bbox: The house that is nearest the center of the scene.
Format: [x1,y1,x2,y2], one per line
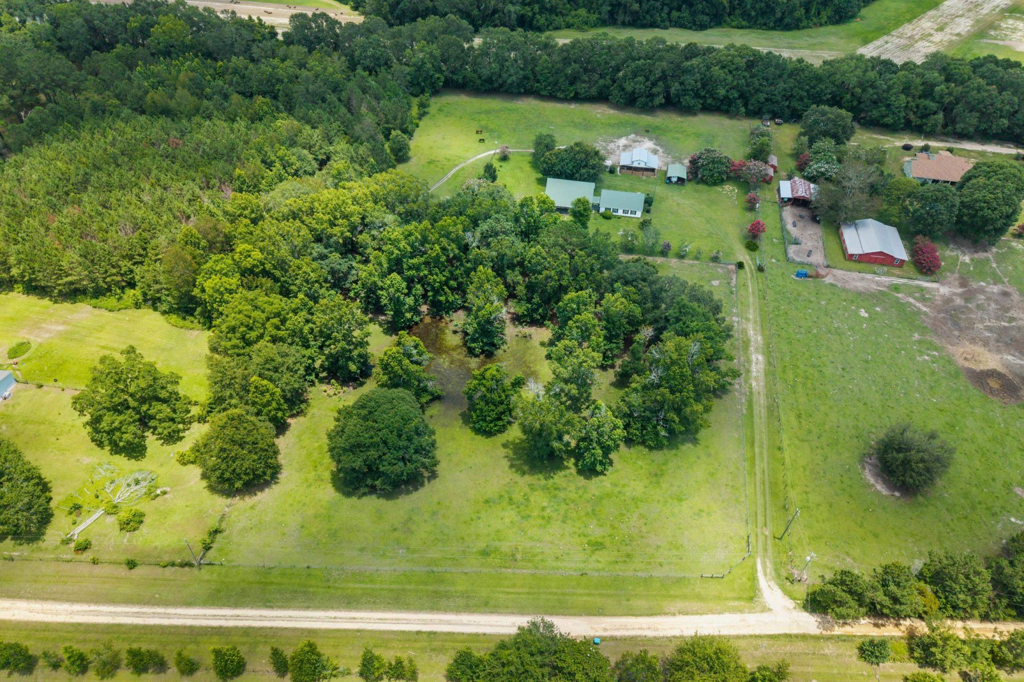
[542,172,644,217]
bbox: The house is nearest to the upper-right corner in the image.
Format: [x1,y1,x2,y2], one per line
[904,149,984,189]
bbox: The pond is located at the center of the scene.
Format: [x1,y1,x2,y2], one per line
[409,317,545,427]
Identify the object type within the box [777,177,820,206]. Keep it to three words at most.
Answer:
barn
